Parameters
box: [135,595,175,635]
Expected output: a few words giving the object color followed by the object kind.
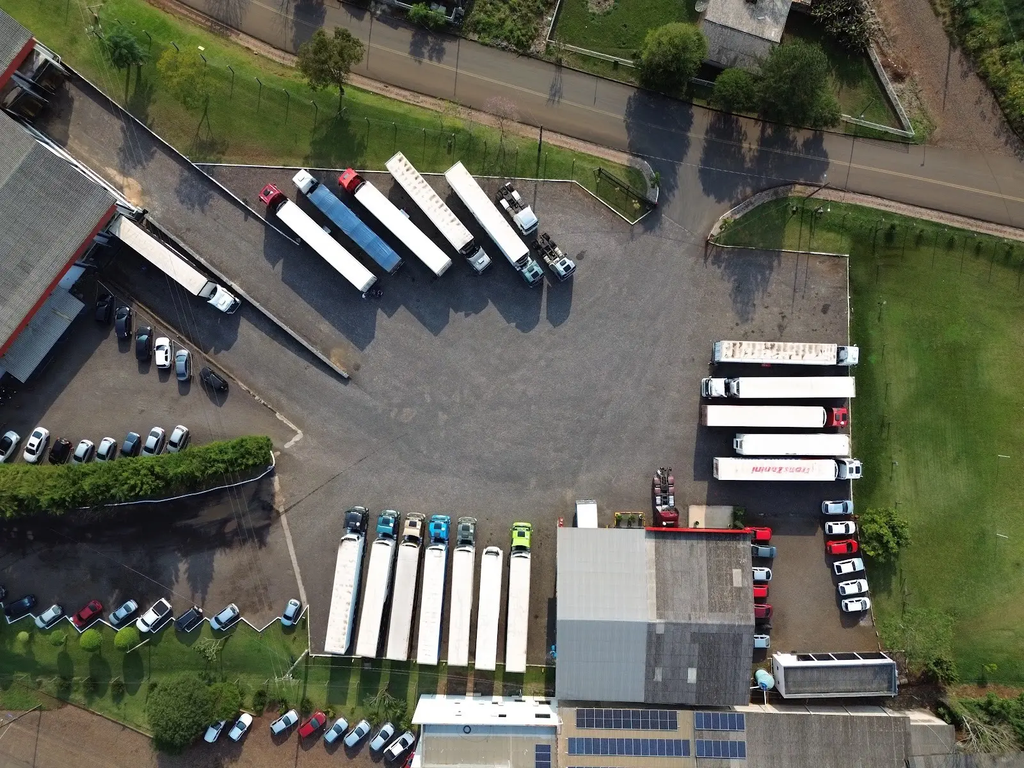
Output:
white truck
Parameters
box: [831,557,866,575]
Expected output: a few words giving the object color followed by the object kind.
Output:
white car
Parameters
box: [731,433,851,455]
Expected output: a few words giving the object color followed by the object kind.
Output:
white trailer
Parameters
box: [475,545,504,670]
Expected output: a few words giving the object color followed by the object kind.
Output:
white trailer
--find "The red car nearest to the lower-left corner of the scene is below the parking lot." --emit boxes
[69,596,107,629]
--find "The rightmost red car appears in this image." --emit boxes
[824,538,858,554]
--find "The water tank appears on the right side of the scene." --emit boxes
[751,659,776,692]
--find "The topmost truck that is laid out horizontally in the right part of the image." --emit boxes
[713,339,857,368]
